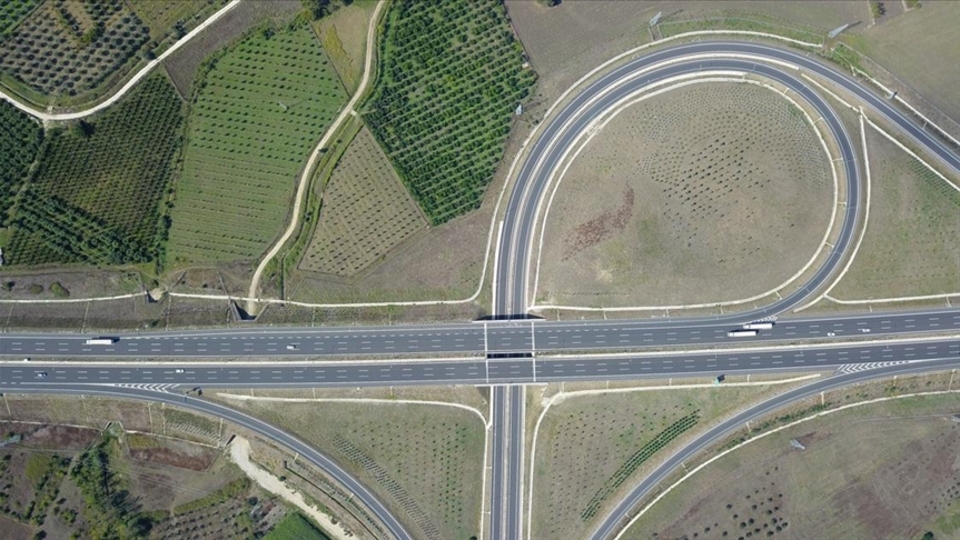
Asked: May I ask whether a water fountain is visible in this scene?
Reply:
No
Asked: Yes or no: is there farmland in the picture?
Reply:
Yes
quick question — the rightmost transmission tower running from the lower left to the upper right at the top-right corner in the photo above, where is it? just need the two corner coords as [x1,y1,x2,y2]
[827,21,856,41]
